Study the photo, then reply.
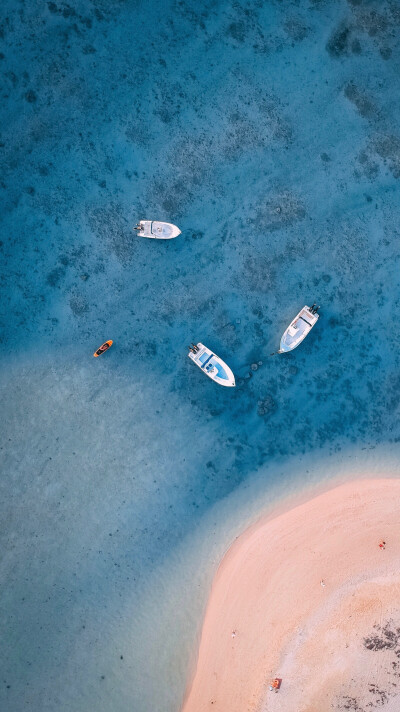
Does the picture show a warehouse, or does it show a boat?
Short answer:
boat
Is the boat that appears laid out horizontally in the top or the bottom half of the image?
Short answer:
top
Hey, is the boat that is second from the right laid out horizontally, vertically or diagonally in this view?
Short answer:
diagonally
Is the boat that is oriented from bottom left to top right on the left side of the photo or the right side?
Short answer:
right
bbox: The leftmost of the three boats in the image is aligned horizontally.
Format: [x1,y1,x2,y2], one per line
[131,219,182,240]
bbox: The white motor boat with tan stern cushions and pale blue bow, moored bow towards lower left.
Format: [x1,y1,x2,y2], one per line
[278,302,321,354]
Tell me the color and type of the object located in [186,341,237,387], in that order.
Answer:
white boat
